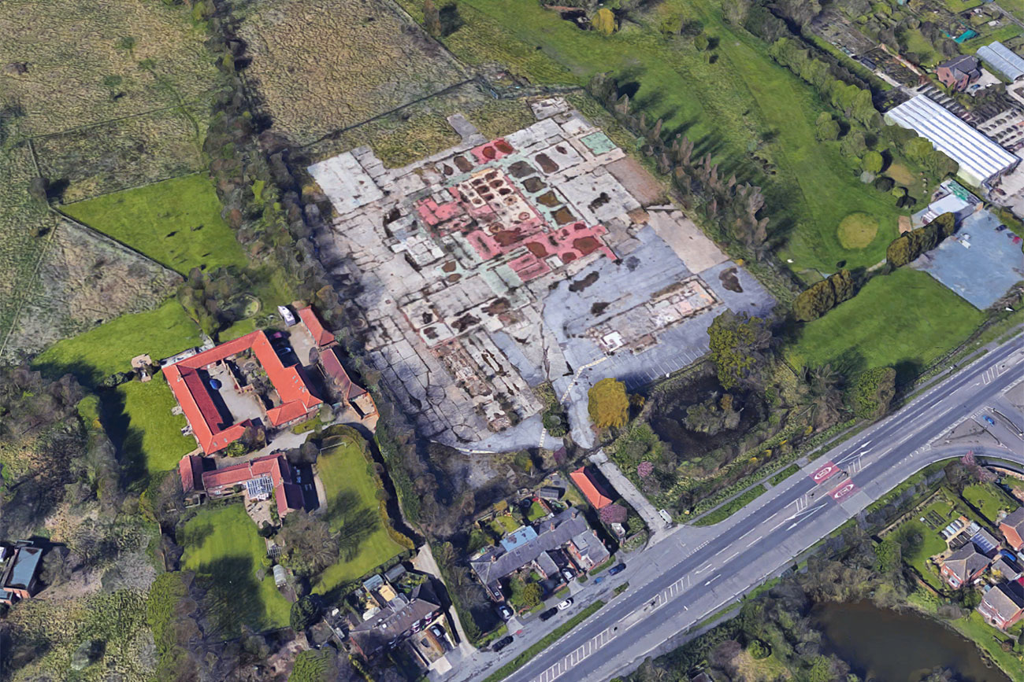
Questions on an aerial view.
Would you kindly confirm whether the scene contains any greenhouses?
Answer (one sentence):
Yes, this view includes a greenhouse.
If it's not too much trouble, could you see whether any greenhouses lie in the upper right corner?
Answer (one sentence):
Yes, I can see a greenhouse in the upper right corner.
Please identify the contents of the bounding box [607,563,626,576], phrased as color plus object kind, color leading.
blue vehicle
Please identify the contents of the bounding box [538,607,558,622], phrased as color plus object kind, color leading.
black car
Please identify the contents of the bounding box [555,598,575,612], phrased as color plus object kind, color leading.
white car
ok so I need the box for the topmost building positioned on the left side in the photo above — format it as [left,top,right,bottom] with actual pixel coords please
[297,304,335,351]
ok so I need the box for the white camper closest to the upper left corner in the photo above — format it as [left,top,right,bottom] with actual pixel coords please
[277,302,294,326]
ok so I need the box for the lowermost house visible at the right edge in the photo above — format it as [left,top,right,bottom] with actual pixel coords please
[978,581,1024,633]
